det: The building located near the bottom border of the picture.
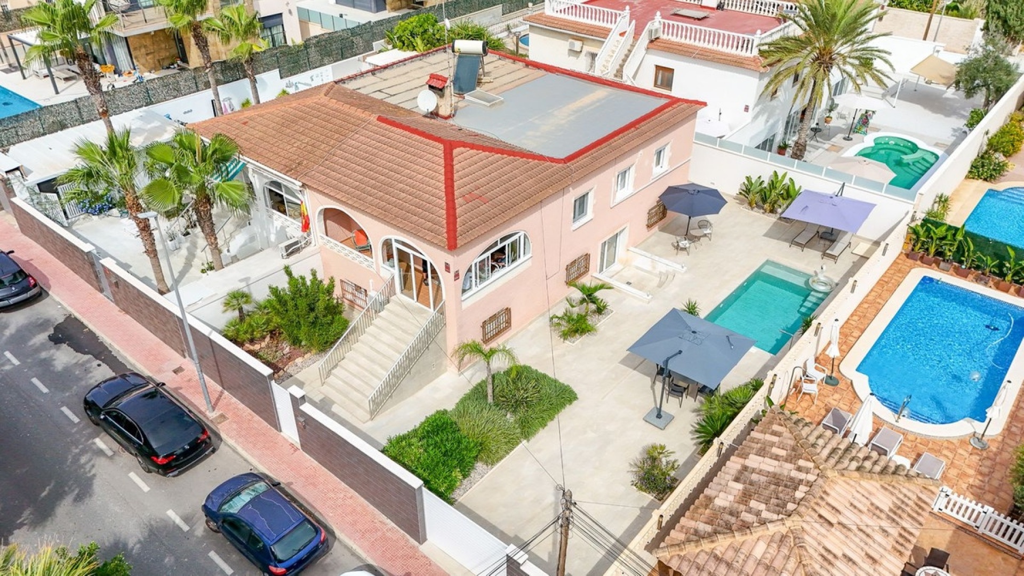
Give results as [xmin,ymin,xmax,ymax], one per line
[646,396,950,576]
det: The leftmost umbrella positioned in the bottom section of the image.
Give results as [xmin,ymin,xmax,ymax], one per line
[627,308,758,428]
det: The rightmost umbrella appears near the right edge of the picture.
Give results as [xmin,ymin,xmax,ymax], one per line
[968,379,1011,450]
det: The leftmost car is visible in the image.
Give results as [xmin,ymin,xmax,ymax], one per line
[0,248,31,307]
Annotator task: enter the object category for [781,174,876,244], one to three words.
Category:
umbrella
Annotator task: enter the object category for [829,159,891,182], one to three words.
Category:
umbrella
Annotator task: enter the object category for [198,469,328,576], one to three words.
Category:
car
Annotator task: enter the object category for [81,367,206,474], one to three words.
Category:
car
